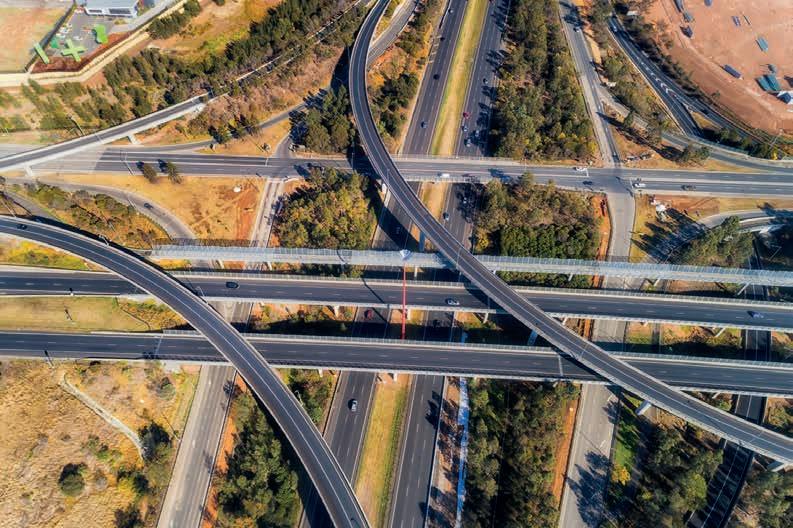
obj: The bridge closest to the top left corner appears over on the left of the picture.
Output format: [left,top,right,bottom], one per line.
[0,88,223,170]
